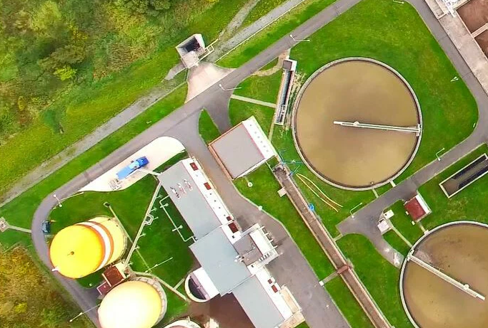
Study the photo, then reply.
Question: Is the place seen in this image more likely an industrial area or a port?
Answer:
industrial area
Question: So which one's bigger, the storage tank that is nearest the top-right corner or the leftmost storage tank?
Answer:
the storage tank that is nearest the top-right corner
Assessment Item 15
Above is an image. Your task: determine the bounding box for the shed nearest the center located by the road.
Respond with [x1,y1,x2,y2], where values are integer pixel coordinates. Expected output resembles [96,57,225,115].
[210,121,276,178]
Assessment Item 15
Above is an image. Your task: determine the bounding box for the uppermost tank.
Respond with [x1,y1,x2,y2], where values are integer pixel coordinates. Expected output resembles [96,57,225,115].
[290,60,422,190]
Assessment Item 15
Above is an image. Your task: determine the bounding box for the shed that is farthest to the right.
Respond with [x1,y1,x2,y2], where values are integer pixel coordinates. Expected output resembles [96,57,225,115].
[404,195,427,221]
